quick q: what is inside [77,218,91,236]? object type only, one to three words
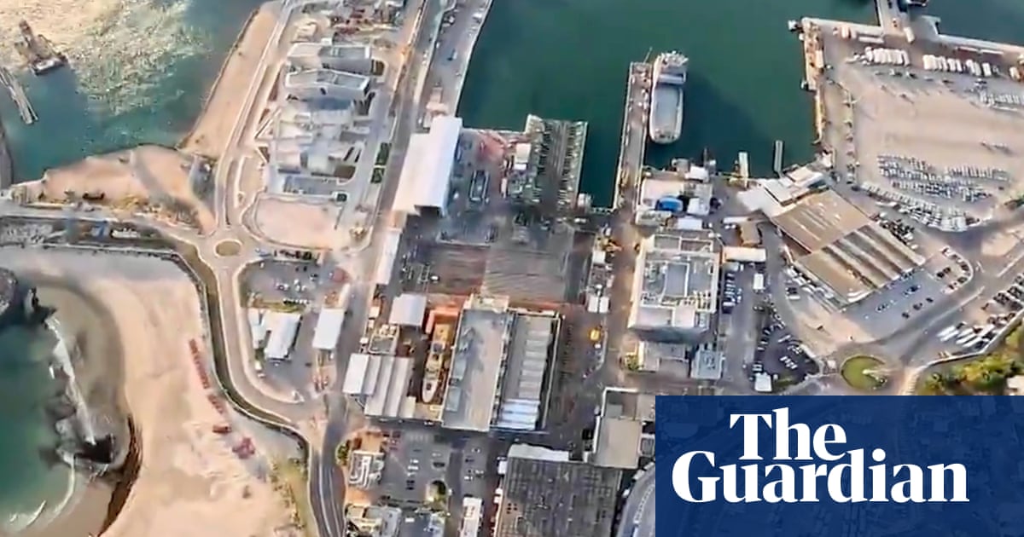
vehicle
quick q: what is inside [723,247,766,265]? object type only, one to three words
building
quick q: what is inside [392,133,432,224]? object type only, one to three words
shed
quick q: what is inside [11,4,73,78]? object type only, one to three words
ship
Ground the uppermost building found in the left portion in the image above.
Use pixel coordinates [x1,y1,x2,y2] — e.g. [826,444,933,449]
[287,42,370,69]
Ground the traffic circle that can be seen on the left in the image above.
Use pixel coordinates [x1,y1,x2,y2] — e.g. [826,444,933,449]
[196,226,258,270]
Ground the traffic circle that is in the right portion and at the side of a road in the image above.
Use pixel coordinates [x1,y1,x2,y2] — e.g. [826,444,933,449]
[828,346,901,401]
